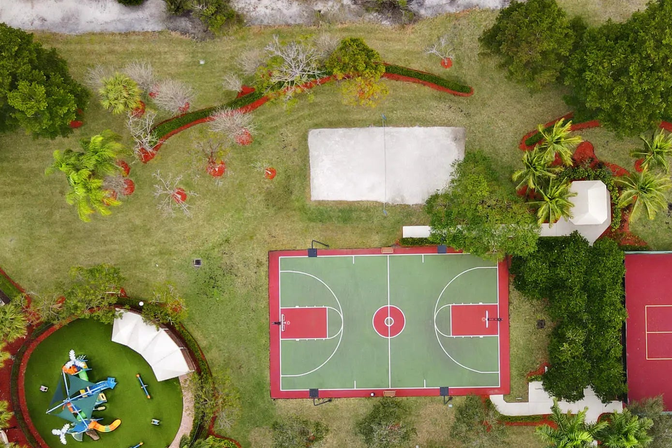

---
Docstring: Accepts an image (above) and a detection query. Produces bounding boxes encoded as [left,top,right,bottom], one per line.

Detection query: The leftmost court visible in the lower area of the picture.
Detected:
[268,246,510,398]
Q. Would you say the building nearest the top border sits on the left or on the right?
right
